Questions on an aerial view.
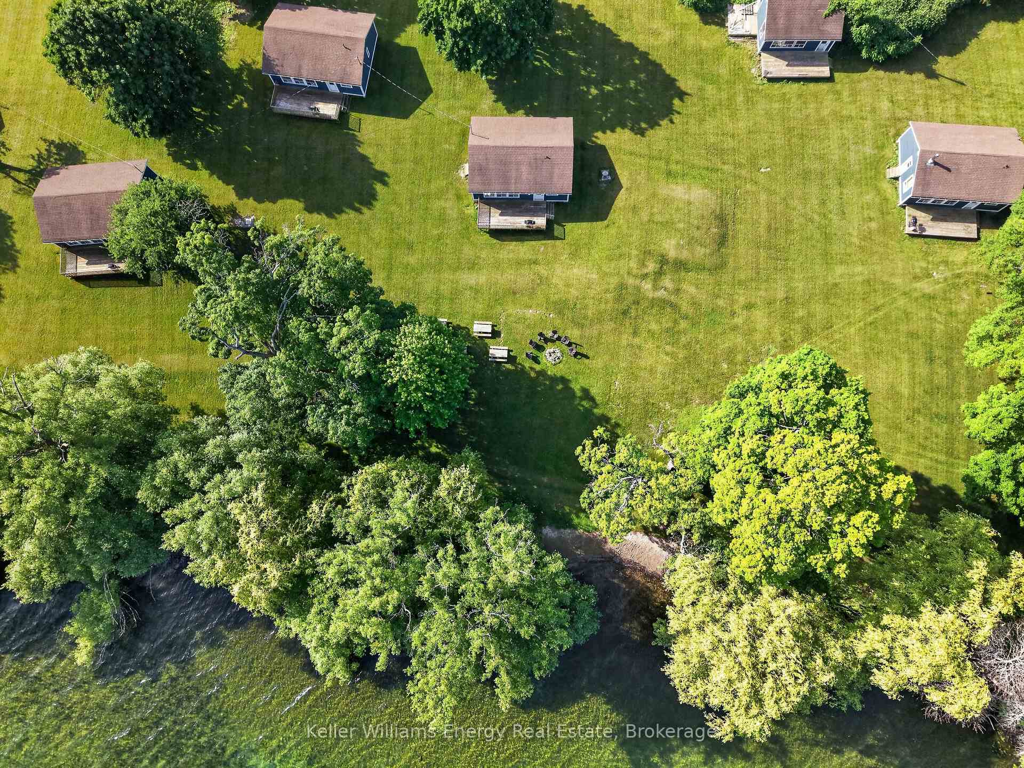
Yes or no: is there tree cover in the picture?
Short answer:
Yes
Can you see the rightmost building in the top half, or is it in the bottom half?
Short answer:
top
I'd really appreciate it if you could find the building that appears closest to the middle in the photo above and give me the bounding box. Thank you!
[468,116,575,203]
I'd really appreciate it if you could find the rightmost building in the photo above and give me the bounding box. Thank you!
[895,121,1024,215]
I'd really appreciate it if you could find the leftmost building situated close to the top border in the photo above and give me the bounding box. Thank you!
[261,2,378,99]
